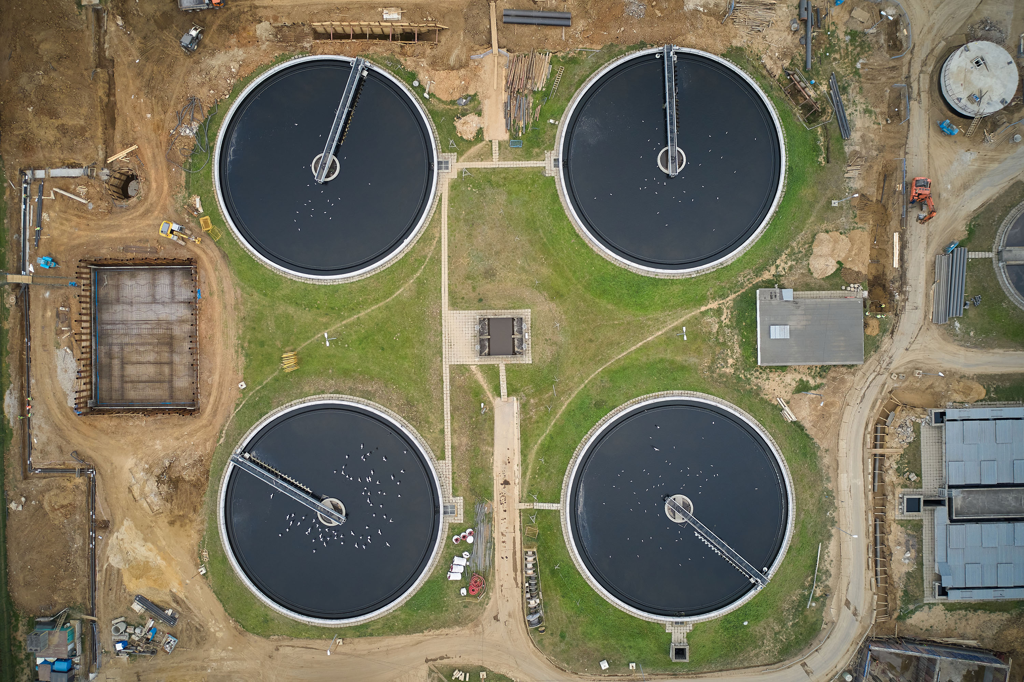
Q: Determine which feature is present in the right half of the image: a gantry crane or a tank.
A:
tank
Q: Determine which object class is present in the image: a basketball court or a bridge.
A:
bridge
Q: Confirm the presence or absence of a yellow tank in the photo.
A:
No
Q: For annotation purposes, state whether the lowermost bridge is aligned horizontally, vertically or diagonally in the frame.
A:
diagonally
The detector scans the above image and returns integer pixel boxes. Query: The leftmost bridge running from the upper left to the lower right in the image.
[228,446,346,524]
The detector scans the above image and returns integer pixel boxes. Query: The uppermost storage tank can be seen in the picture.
[937,38,1019,119]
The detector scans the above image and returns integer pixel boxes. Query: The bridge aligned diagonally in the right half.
[666,497,772,592]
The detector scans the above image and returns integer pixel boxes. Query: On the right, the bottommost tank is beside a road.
[566,395,793,622]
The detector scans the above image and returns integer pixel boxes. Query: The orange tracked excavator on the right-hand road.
[908,181,931,228]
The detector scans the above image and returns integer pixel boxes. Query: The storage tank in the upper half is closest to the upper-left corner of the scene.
[214,54,438,279]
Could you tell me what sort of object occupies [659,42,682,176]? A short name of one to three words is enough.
bridge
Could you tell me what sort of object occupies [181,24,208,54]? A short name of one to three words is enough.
work vehicle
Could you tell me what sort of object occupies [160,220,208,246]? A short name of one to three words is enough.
work vehicle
